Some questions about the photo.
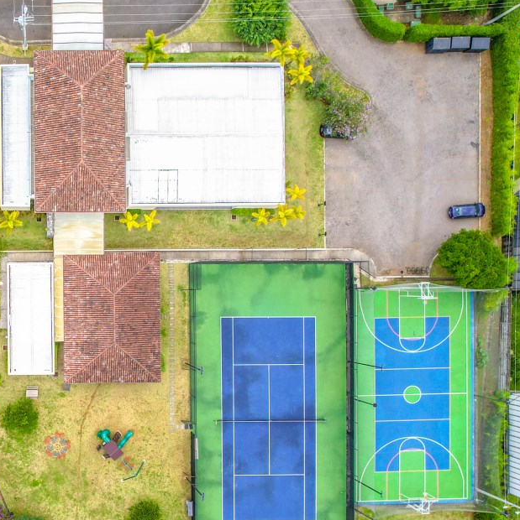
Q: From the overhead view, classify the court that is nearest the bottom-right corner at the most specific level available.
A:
basketball court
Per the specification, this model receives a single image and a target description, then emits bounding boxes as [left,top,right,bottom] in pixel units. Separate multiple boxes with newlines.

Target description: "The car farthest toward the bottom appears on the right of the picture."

[450,200,489,220]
